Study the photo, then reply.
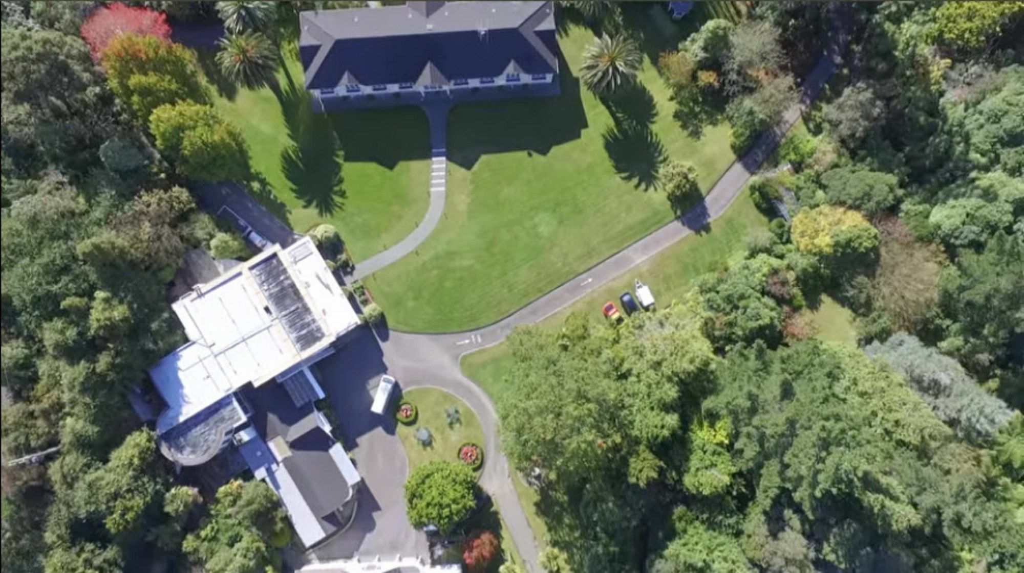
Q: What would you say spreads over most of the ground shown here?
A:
trees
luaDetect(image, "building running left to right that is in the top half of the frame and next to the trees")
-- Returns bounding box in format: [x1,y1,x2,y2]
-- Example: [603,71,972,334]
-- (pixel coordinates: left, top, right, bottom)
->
[299,0,556,102]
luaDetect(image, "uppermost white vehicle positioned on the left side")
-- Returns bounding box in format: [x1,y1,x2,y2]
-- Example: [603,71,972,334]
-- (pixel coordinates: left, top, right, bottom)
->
[368,374,394,414]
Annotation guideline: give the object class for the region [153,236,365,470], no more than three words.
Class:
building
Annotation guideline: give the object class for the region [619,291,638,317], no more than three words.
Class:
car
